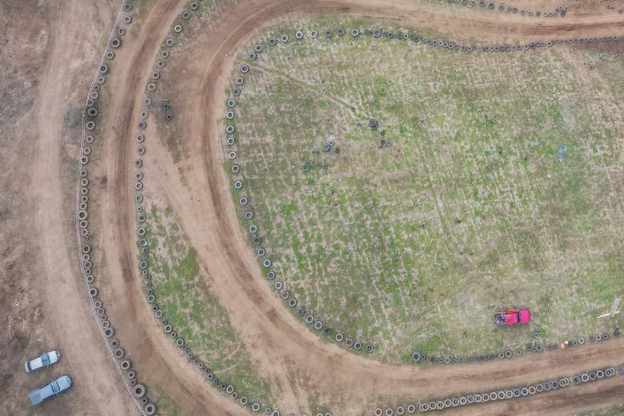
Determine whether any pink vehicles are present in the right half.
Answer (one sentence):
Yes, a pink vehicle shows up in the right half.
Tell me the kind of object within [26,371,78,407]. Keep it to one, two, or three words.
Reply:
truck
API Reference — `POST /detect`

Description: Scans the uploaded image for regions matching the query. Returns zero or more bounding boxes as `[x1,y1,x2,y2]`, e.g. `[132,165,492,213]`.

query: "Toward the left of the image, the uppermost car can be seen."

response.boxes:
[24,346,66,373]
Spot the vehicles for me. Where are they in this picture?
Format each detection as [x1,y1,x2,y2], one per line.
[24,346,66,373]
[493,306,532,326]
[26,371,78,407]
